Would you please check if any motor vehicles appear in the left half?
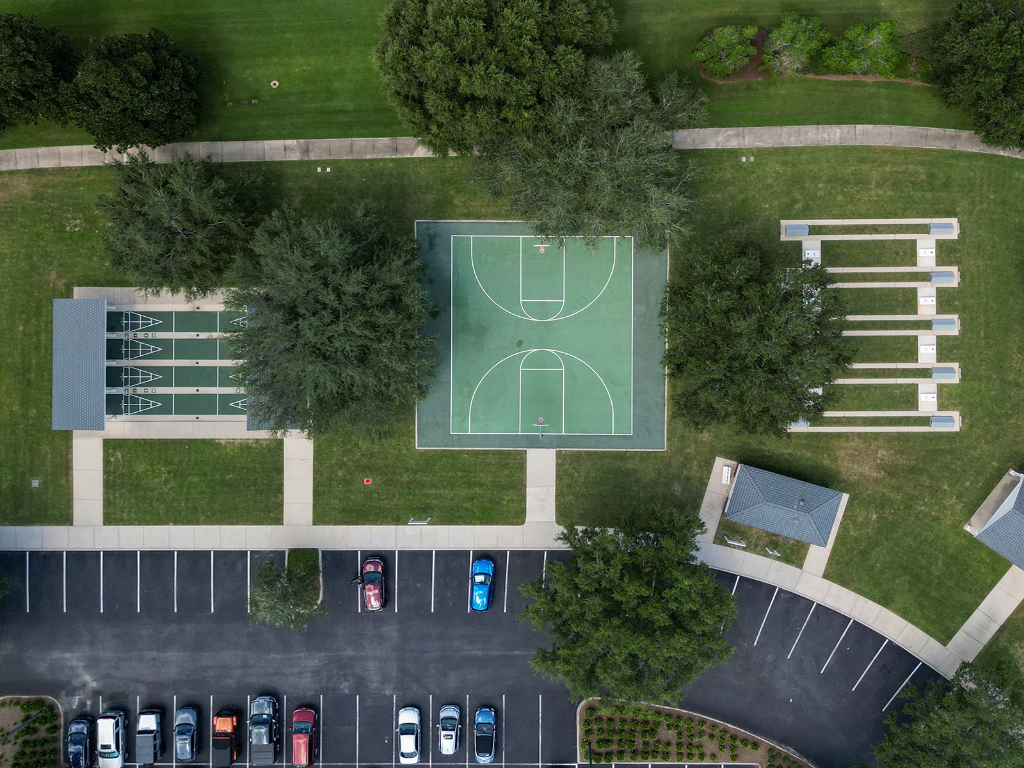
Yes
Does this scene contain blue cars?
Yes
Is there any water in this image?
No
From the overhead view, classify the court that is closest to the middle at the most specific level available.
basketball court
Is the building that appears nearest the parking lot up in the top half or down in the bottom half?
bottom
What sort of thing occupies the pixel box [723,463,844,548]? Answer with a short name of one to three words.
building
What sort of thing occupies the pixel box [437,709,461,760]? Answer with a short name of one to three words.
car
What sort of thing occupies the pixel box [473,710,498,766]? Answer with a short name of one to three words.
car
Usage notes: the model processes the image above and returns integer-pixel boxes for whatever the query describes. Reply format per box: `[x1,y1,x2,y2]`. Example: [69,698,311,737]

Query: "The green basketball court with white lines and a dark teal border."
[415,221,668,450]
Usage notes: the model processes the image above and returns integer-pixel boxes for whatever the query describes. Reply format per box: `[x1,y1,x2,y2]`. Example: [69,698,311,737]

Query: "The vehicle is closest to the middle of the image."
[470,561,495,613]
